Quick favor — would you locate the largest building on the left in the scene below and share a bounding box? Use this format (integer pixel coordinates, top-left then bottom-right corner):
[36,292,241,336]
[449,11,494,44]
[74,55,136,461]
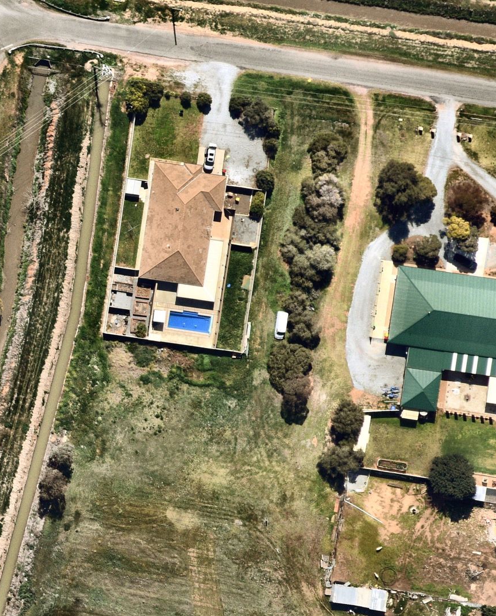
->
[139,162,227,302]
